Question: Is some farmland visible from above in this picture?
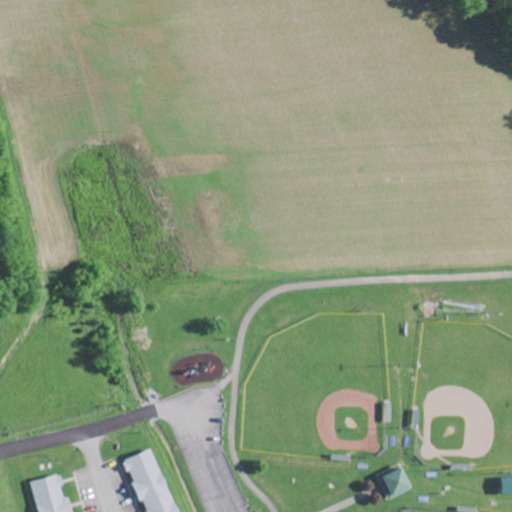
Yes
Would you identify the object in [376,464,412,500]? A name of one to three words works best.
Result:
building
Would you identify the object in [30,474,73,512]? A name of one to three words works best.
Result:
building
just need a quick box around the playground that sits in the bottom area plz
[171,353,224,386]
